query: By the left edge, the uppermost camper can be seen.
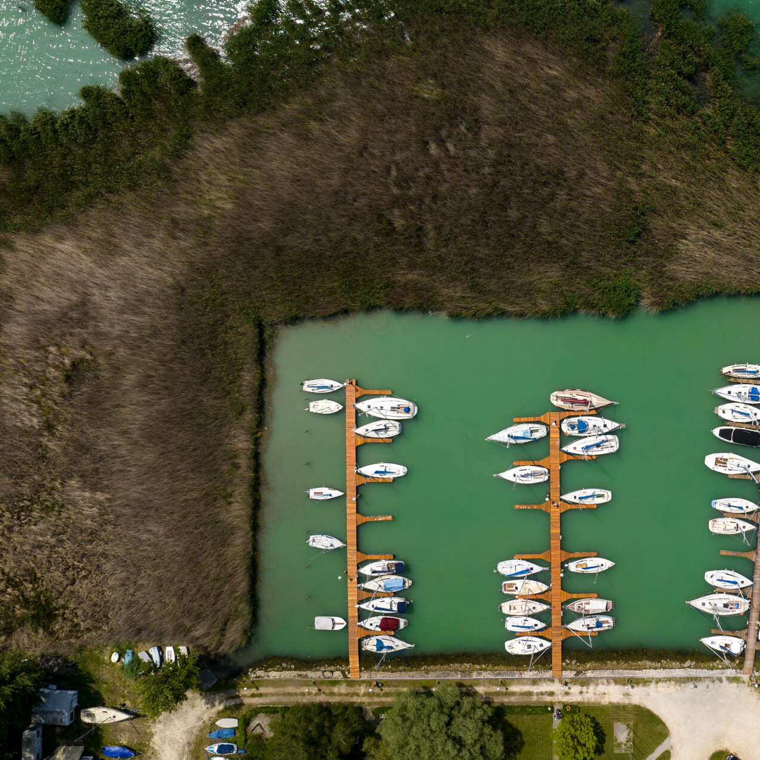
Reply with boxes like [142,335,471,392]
[35,696,80,722]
